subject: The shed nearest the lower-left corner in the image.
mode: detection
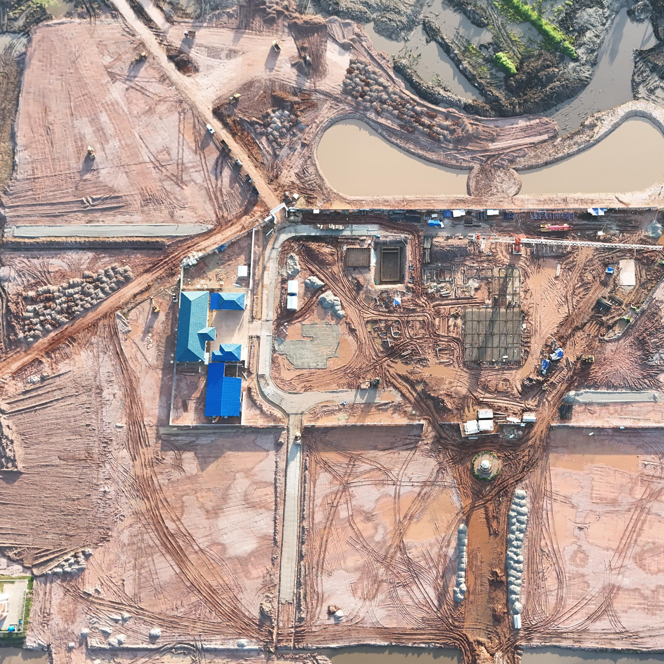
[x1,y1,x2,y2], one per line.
[202,363,244,416]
